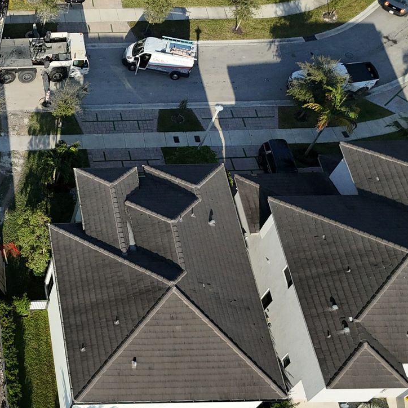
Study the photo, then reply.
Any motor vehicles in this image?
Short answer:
Yes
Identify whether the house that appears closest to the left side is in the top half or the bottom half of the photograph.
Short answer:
bottom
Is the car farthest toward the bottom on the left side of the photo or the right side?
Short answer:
right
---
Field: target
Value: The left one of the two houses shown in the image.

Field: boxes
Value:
[45,162,288,408]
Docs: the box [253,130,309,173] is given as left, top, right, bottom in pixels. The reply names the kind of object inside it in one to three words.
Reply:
car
